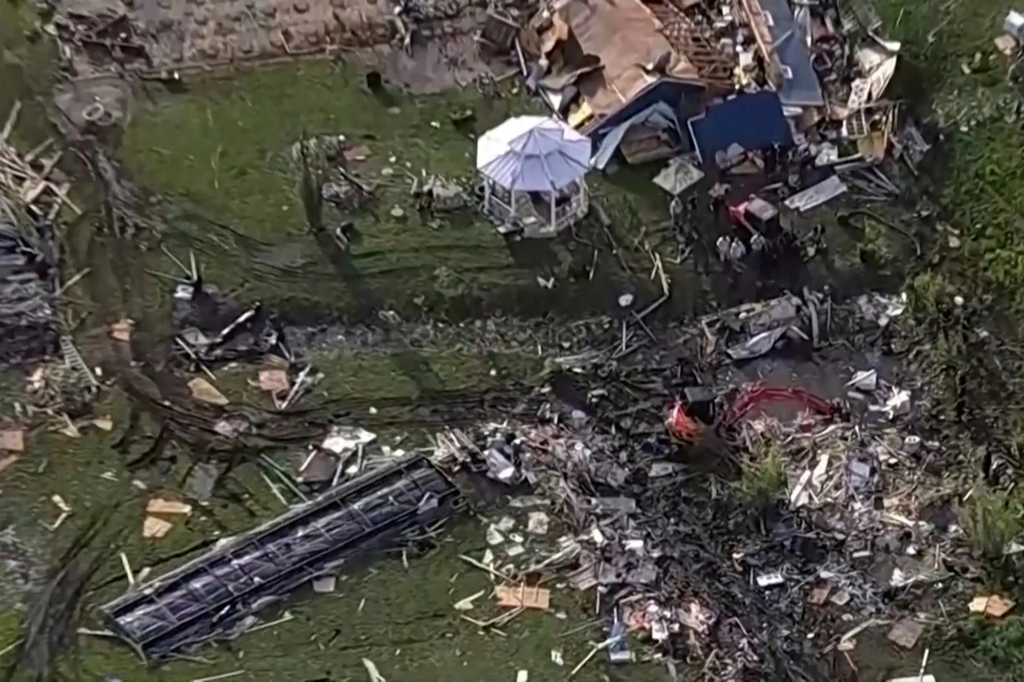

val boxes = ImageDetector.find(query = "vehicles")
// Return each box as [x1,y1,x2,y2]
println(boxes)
[666,386,858,461]
[719,199,786,251]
